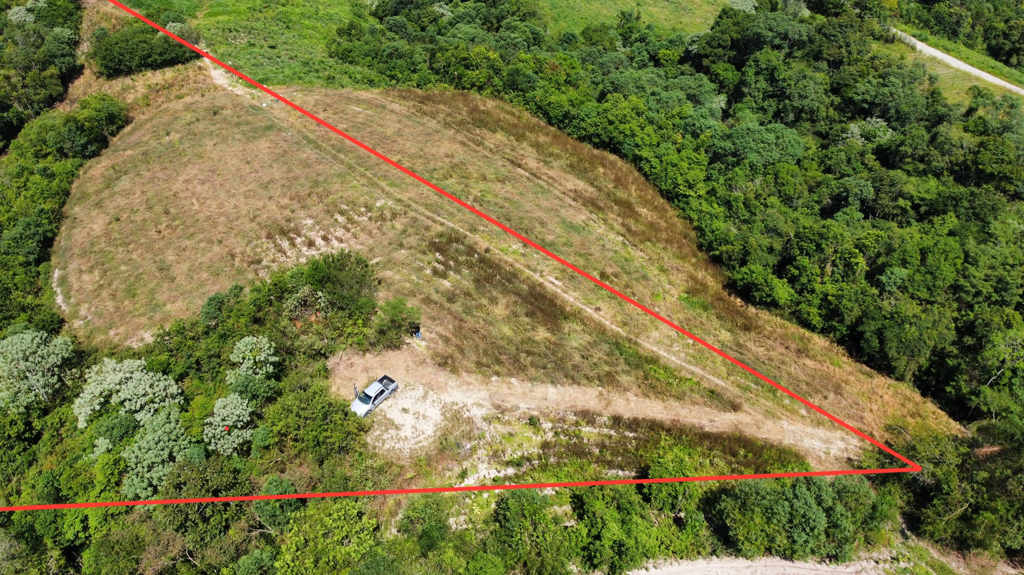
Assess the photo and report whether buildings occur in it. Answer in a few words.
No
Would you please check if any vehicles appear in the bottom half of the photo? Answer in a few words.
Yes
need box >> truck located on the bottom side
[351,374,399,419]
